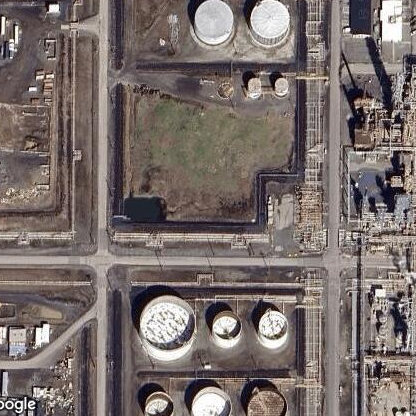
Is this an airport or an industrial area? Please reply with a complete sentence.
The picture captures an industrial area.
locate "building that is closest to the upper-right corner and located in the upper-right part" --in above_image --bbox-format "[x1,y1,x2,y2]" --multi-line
[380,0,401,46]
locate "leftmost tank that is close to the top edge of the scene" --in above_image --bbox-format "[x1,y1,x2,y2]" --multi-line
[192,0,236,47]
